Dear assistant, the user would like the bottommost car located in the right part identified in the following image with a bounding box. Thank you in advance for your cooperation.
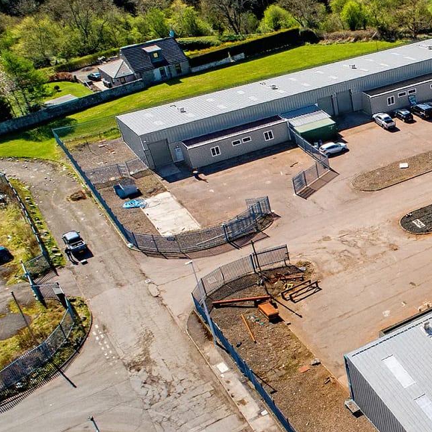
[319,140,347,154]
